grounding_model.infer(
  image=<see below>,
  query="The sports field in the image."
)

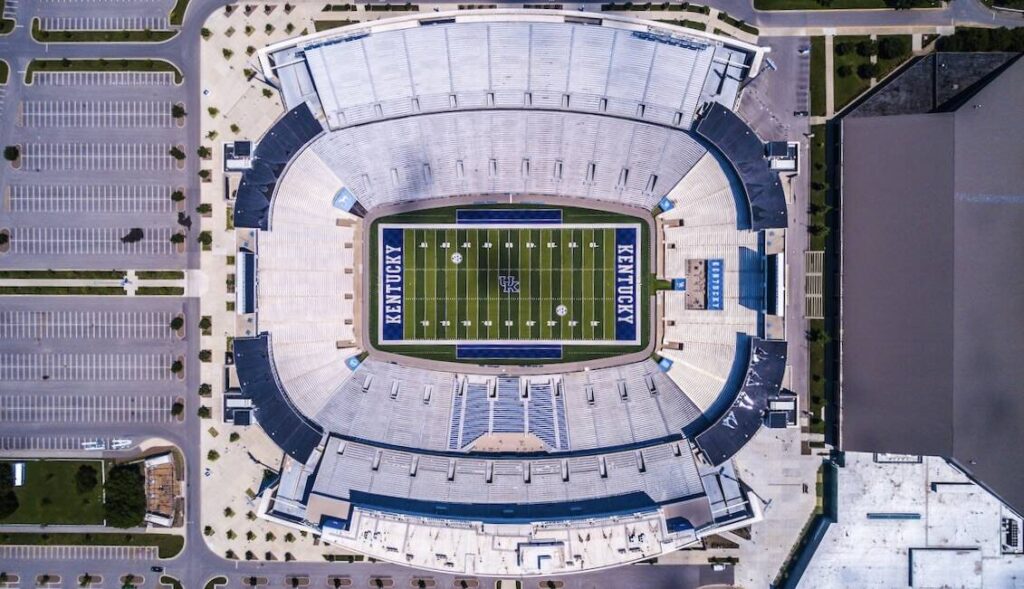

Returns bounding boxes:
[368,204,652,363]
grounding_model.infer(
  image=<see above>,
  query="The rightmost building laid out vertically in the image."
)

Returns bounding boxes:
[831,50,1024,521]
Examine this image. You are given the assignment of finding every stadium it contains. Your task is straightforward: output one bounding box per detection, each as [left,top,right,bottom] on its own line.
[224,9,798,577]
